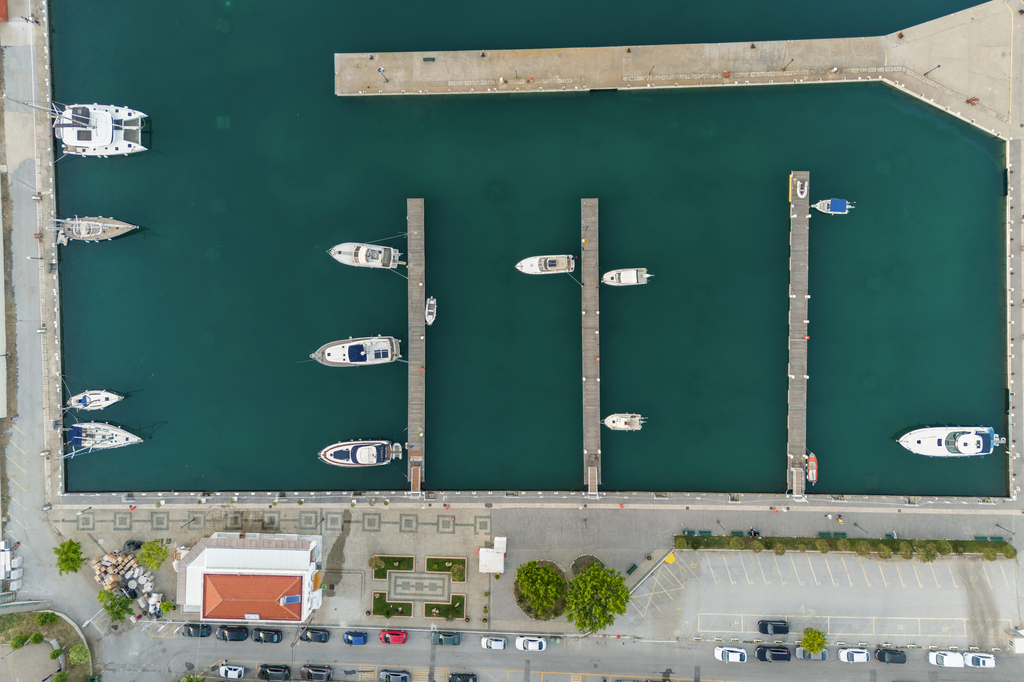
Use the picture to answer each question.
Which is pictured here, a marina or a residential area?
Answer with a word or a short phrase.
marina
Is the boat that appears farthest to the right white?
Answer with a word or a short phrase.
Yes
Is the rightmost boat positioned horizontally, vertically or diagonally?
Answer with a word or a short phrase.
horizontally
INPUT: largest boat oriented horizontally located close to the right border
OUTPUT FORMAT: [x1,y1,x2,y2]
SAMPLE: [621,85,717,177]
[895,414,1008,459]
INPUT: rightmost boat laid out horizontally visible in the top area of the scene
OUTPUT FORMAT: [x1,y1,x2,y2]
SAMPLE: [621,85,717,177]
[806,198,856,215]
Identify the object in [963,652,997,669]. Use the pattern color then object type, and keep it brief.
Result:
white car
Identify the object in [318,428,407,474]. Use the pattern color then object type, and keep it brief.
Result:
white boat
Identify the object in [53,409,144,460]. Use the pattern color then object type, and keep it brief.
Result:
white boat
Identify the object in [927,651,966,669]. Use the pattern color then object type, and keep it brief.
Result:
white vehicle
